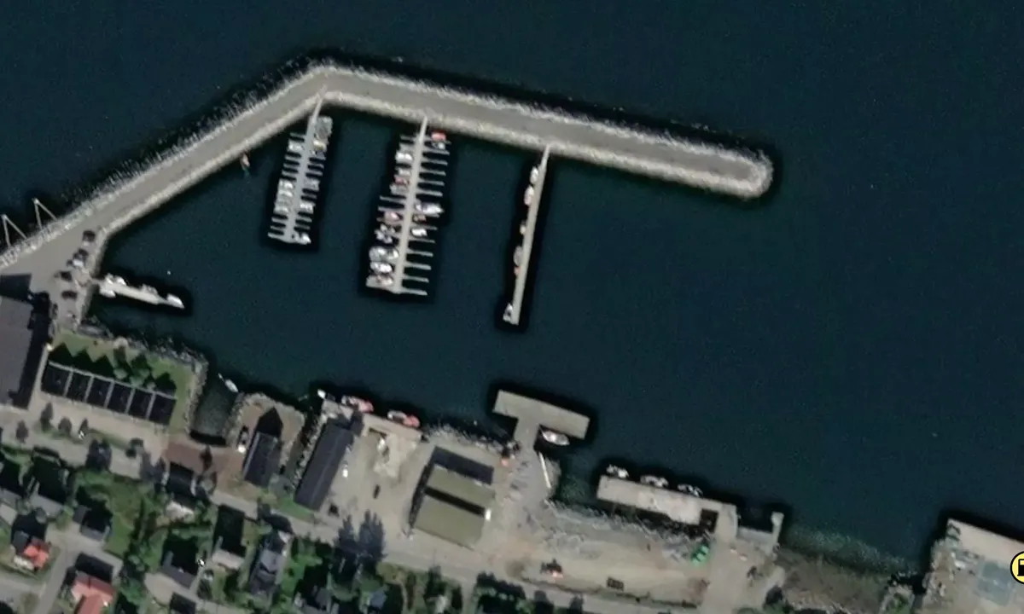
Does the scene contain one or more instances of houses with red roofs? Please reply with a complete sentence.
Yes, the picture does show a house with a red roof.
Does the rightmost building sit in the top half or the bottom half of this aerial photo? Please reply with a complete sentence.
It is in the bottom half that the rightmost building appears.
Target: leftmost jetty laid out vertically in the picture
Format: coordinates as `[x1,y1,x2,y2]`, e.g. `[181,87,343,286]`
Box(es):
[268,95,323,243]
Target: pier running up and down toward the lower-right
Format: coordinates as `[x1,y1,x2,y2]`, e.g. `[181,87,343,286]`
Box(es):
[770,512,784,551]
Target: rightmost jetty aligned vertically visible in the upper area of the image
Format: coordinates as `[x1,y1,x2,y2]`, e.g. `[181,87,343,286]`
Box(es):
[511,146,549,325]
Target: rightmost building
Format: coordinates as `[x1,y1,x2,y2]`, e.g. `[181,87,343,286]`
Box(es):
[410,457,494,550]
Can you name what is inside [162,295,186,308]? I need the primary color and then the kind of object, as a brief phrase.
white boat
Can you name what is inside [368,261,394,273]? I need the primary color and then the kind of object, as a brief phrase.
white boat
